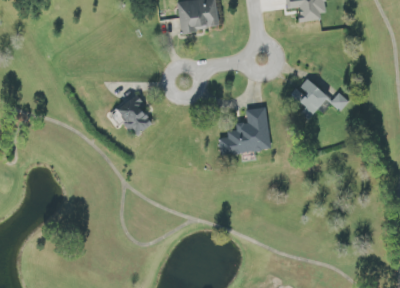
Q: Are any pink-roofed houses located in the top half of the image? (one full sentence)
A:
No, no pink-roofed house can be made out in the top half of the image.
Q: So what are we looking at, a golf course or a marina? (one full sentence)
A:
This image shows a golf course.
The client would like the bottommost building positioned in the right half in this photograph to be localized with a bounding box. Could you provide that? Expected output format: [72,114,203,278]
[218,106,272,156]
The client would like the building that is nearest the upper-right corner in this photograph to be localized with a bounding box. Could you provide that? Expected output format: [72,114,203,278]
[286,0,328,24]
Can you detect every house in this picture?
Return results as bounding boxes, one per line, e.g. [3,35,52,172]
[178,0,218,36]
[300,80,348,114]
[117,96,154,136]
[286,0,328,24]
[218,106,272,156]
